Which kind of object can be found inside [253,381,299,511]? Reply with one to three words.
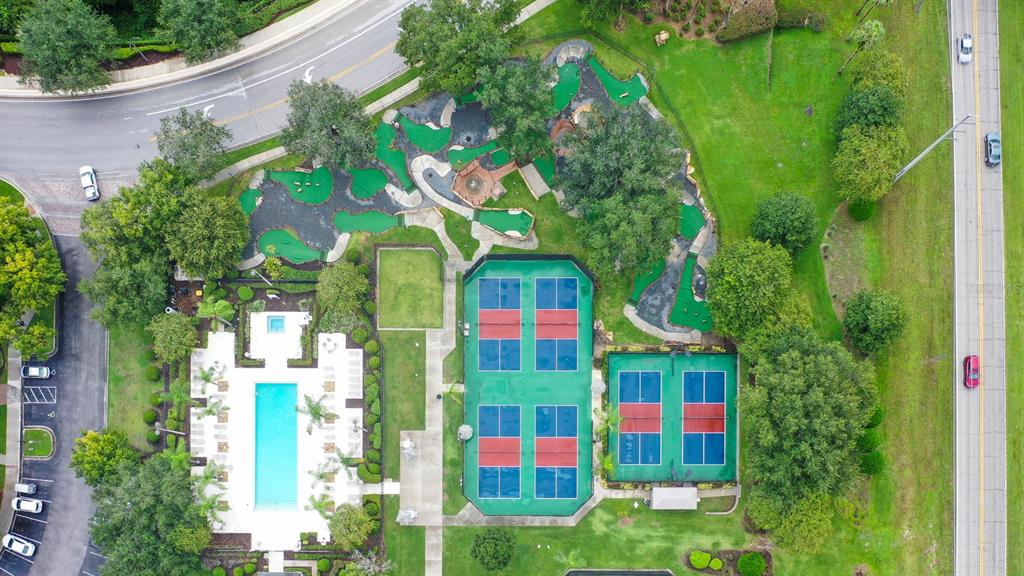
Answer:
swimming pool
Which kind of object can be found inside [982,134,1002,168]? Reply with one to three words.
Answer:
car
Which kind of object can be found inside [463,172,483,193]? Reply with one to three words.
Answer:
fountain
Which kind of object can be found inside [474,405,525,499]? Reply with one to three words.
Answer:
sports court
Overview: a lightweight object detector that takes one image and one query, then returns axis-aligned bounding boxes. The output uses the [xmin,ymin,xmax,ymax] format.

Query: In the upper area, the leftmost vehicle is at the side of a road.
[78,165,100,203]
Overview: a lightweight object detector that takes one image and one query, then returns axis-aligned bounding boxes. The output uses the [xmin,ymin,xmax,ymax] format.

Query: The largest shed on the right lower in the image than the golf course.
[651,488,696,509]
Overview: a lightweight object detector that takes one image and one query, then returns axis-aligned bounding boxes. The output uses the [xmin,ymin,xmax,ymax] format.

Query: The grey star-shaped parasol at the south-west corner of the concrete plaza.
[399,508,415,524]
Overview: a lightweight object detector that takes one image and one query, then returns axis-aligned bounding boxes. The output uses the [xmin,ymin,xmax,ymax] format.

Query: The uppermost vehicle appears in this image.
[955,32,974,67]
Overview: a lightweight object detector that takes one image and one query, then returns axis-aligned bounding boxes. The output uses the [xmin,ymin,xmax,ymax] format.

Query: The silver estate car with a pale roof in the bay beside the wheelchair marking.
[17,364,53,380]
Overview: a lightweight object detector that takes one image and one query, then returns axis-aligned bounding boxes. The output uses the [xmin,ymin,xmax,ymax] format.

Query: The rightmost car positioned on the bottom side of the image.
[961,355,982,388]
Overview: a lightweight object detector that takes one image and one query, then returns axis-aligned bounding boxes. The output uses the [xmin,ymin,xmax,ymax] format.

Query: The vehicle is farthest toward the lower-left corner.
[1,535,38,556]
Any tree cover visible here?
Yes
